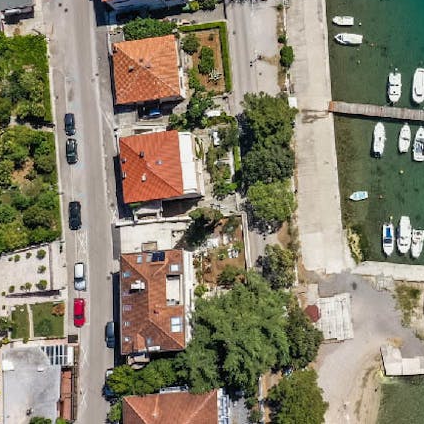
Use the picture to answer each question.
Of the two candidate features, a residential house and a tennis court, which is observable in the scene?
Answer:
residential house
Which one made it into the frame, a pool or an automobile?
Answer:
automobile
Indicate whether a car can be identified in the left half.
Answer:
Yes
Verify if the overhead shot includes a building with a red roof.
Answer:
Yes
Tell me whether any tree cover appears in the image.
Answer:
Yes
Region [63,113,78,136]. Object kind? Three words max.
car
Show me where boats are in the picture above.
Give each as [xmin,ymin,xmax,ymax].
[399,121,410,156]
[412,226,424,264]
[413,124,424,165]
[350,190,369,200]
[371,120,385,160]
[398,213,412,262]
[334,33,366,44]
[412,65,424,106]
[387,69,402,107]
[381,220,395,263]
[332,16,357,25]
